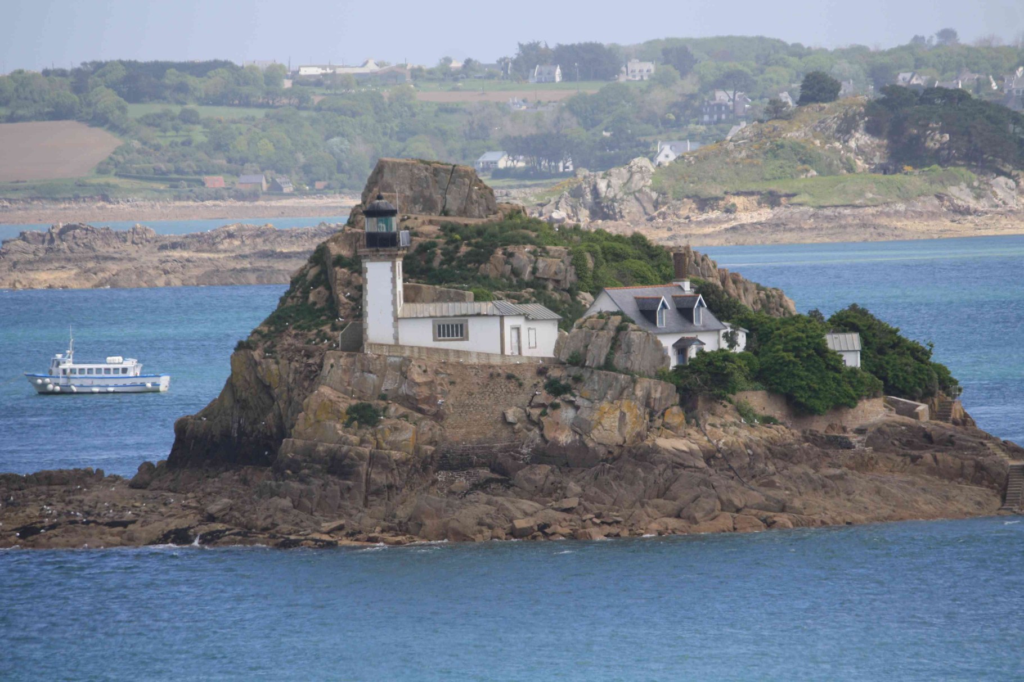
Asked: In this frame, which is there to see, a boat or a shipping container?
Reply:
boat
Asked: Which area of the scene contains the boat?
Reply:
left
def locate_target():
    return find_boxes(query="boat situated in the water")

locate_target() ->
[12,325,172,393]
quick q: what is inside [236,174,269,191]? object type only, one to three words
barn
